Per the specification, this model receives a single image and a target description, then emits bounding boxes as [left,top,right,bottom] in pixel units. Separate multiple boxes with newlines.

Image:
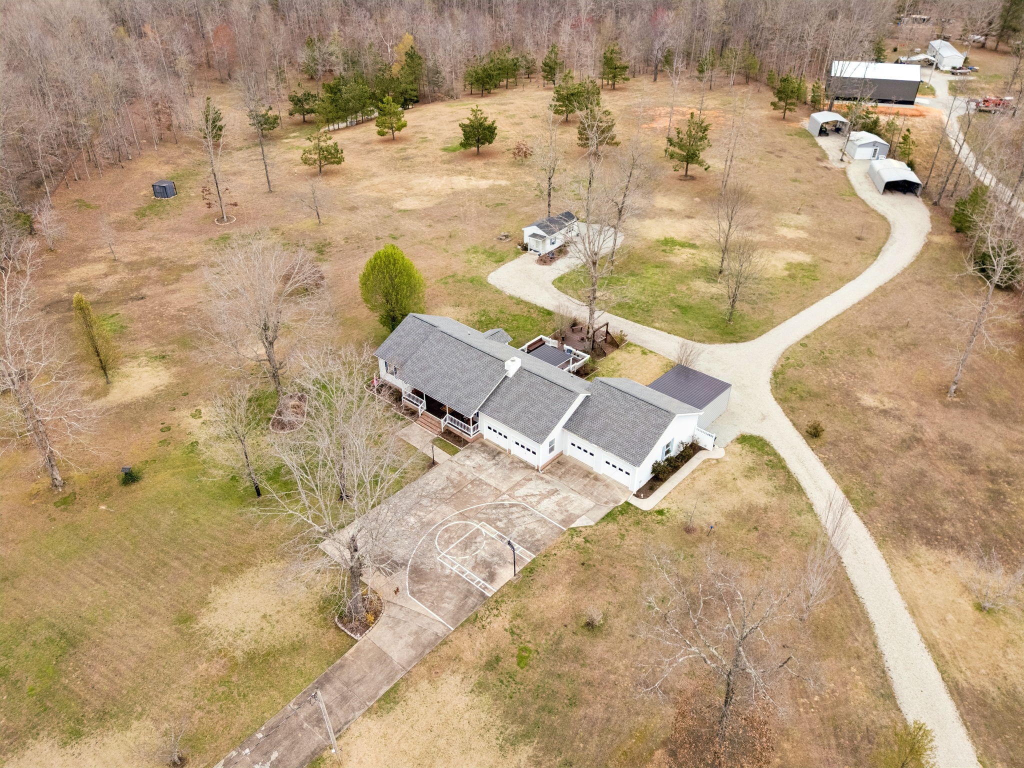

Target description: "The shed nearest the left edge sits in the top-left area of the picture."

[150,180,175,198]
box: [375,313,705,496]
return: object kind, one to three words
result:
house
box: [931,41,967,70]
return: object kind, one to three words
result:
house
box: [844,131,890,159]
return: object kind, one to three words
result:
building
